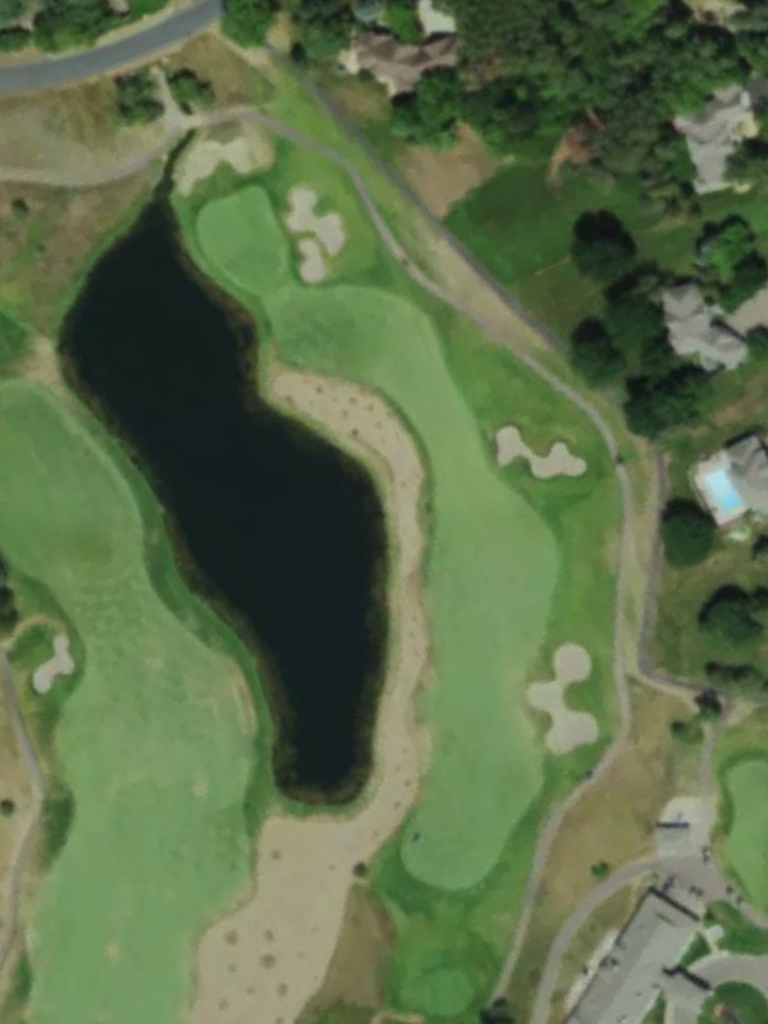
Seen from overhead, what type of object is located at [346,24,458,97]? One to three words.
house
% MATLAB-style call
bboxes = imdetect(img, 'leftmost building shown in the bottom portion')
[562,890,713,1024]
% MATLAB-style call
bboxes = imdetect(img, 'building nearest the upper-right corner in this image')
[676,81,760,195]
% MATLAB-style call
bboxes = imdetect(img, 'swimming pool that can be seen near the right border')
[705,469,742,512]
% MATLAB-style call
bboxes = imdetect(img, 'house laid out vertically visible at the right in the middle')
[724,431,768,525]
